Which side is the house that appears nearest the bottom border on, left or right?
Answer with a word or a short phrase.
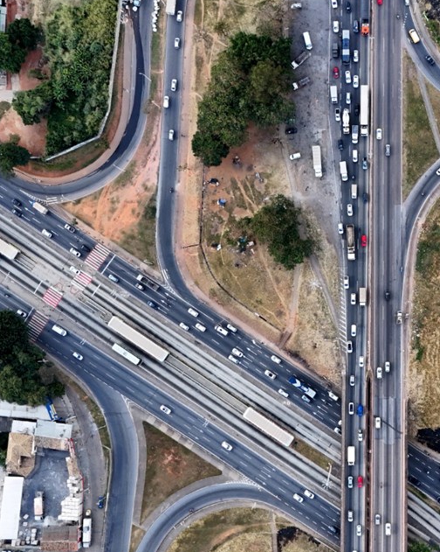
left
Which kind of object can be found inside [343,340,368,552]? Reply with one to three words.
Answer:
overpass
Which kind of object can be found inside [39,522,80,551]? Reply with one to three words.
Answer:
house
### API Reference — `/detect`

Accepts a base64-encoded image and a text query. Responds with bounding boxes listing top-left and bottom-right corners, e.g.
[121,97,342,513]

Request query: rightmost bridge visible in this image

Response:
[371,0,407,552]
